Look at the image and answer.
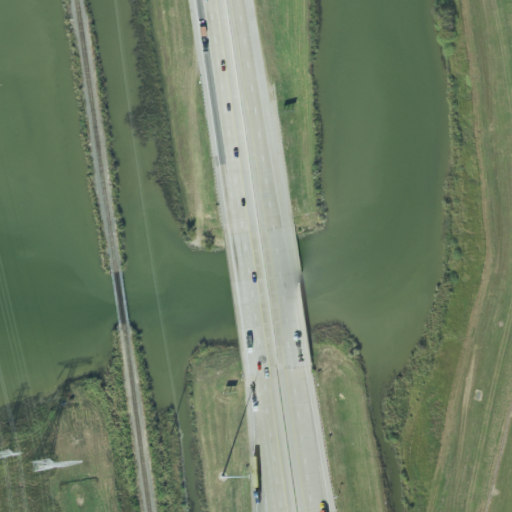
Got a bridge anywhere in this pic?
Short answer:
Yes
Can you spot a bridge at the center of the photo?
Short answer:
Yes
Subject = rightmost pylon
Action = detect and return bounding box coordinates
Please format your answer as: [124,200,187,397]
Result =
[34,458,83,474]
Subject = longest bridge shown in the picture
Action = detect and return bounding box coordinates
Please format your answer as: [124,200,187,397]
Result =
[223,231,313,367]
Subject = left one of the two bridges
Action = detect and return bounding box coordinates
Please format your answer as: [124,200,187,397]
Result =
[110,271,129,324]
